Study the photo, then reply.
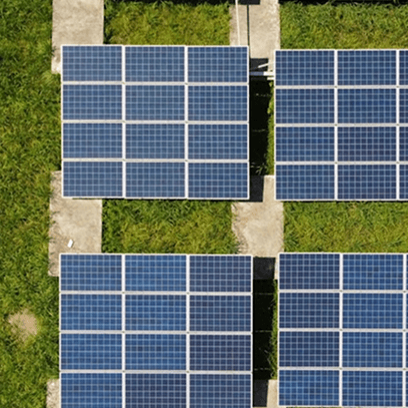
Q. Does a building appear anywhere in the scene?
No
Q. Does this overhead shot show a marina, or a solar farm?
solar farm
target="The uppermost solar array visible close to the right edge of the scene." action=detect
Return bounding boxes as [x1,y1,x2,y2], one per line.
[273,49,408,201]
